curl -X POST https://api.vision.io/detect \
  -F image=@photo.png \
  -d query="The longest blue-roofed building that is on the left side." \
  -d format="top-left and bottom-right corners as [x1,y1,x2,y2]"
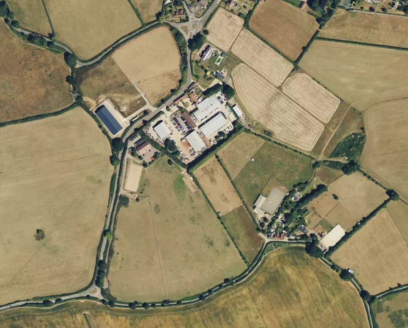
[95,104,123,135]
